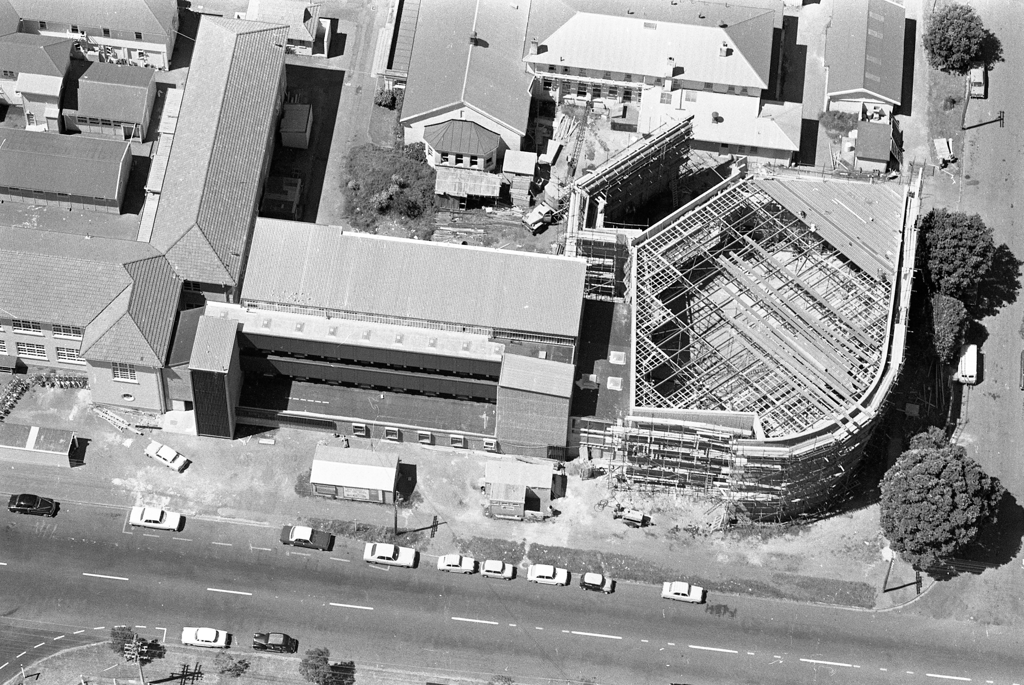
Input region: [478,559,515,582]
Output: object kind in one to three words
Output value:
car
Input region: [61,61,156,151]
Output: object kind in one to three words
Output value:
shed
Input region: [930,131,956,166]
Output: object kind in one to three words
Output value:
trailer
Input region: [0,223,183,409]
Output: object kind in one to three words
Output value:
building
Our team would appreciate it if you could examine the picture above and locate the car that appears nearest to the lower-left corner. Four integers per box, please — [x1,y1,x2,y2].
[6,493,59,518]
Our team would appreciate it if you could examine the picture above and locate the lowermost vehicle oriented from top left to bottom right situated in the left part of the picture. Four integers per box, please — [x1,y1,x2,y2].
[144,437,190,475]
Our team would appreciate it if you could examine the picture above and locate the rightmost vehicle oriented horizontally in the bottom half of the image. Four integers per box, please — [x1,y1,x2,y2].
[659,580,706,605]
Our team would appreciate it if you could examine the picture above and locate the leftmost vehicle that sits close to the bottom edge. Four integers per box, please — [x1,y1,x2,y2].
[179,625,231,651]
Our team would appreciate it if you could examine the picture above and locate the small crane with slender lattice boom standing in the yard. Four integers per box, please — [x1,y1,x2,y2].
[561,102,590,184]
